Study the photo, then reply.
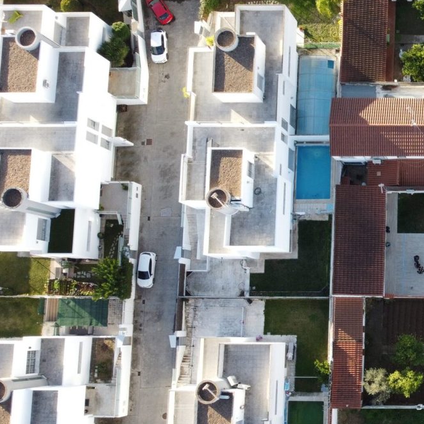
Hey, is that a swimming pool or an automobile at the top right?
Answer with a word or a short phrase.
swimming pool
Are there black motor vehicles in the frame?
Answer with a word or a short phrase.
No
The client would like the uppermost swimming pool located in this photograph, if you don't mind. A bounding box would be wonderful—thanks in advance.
[297,63,335,134]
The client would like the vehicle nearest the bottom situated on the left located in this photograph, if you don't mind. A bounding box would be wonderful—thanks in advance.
[134,251,159,289]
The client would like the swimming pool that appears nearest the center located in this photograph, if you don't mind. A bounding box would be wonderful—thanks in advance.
[294,144,333,201]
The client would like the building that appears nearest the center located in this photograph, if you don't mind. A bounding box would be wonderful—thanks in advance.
[177,127,296,259]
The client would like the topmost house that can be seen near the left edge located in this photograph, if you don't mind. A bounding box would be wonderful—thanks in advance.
[0,4,136,146]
